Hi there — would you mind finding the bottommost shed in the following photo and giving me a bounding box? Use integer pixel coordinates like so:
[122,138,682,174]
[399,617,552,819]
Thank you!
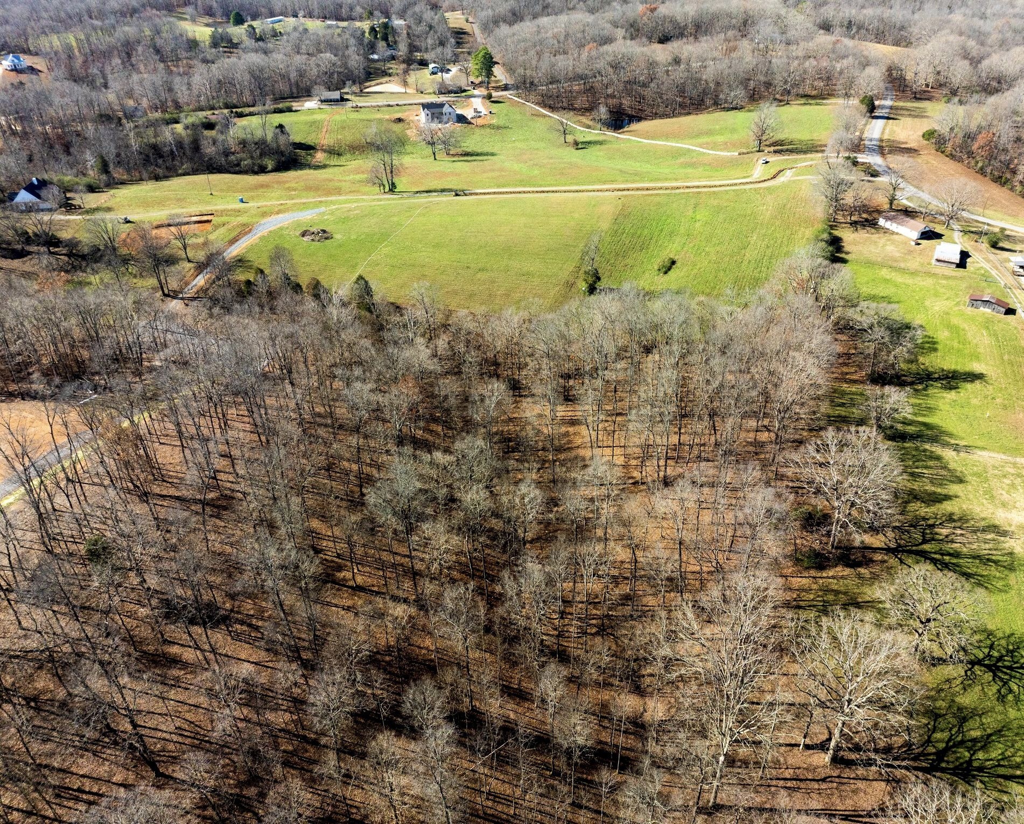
[967,293,1012,315]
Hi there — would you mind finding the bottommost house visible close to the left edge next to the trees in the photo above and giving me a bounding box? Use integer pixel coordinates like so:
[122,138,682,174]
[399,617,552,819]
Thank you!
[1,173,68,213]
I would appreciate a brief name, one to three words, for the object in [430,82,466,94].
house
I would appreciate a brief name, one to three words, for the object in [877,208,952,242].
building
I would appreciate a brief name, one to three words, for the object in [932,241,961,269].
barn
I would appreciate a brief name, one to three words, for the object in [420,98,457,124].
house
